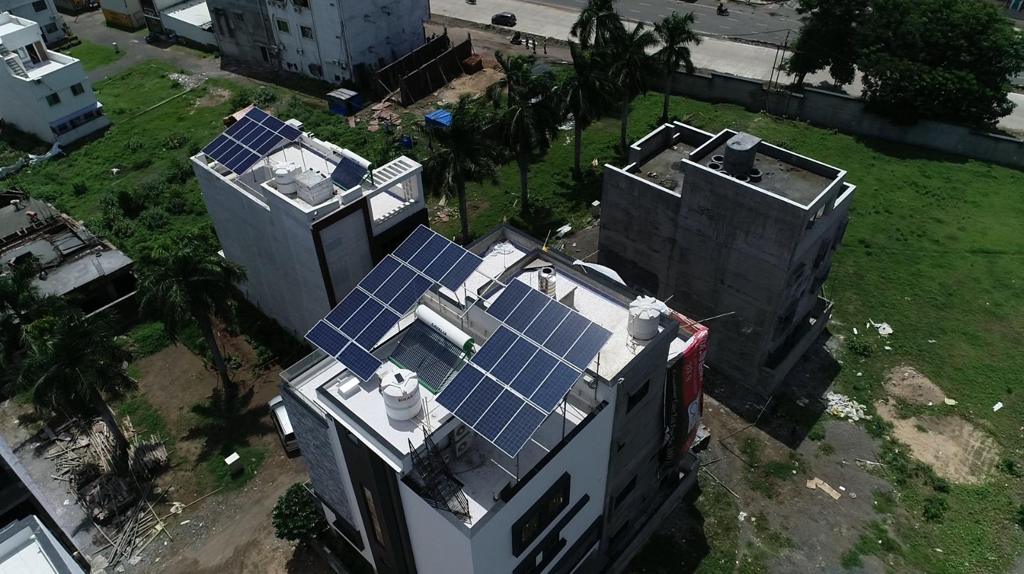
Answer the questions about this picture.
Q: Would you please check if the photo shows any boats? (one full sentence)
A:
No, the frame has no boat in it.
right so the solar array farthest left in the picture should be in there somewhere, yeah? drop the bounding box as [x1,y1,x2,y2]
[201,106,305,191]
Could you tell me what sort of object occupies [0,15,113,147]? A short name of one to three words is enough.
house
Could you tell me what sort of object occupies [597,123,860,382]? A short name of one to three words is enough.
house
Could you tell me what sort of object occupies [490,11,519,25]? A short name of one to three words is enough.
car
